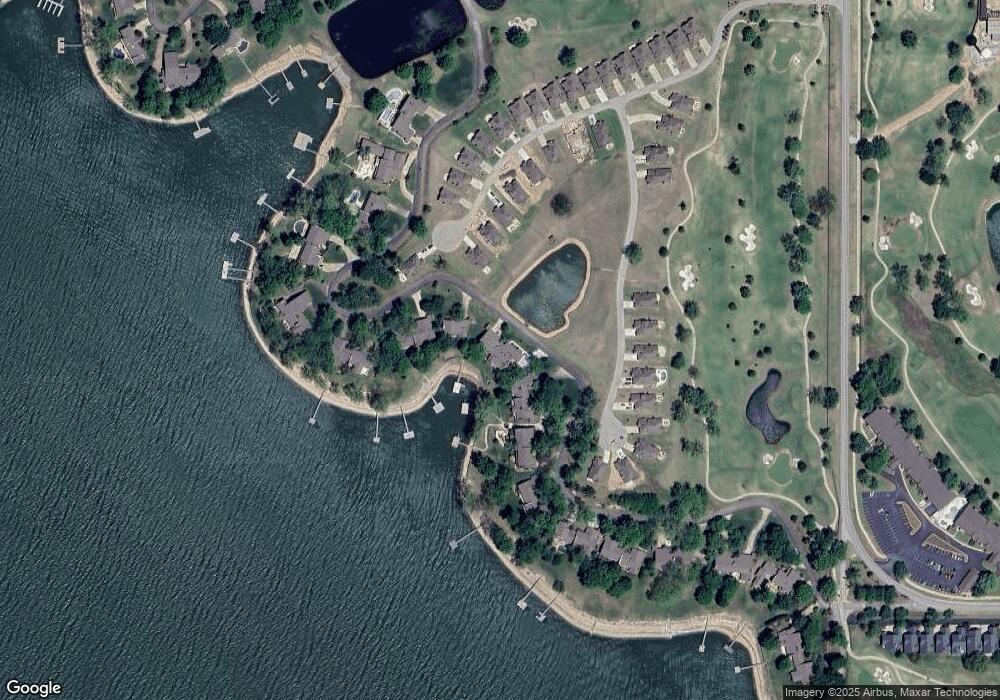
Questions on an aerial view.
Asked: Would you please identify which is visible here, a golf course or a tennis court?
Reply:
golf course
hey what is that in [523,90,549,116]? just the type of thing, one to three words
house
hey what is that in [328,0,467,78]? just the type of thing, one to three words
pond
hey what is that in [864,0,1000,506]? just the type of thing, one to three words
golf course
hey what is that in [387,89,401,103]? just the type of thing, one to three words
swimming pool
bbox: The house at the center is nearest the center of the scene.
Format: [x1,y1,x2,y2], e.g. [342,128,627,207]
[475,326,521,370]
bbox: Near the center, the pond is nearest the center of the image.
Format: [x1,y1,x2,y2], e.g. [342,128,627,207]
[507,245,587,332]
